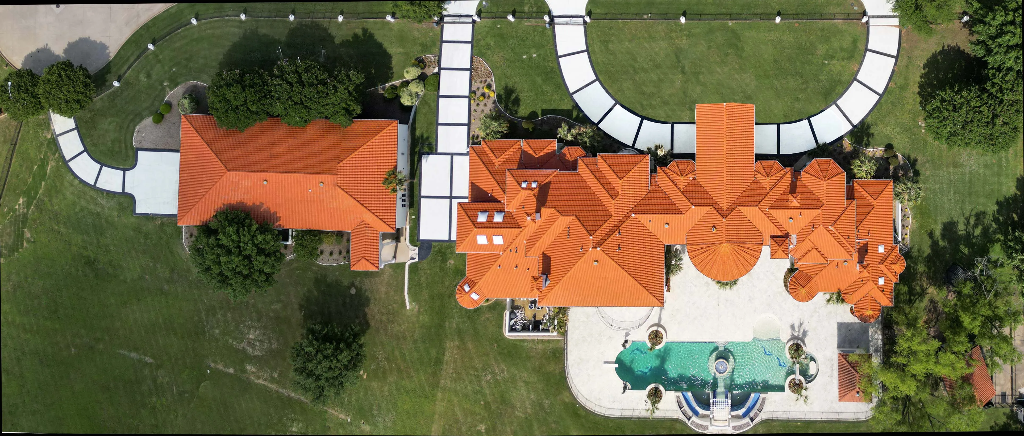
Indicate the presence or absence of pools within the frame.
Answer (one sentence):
Yes, looking at the shot, I can spot a pool.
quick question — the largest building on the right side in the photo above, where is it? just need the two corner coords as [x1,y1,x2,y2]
[455,103,906,324]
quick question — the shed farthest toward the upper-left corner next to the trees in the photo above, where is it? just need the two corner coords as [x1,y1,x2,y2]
[176,114,404,271]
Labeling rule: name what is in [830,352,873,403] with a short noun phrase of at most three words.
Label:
building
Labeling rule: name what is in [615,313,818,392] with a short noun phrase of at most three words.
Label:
swimming pool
